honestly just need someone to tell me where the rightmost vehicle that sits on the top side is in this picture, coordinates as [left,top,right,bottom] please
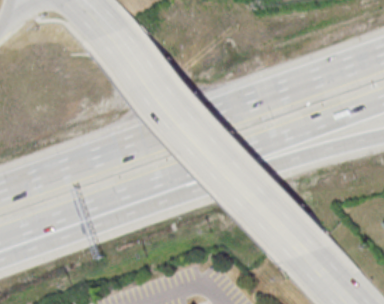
[334,104,364,120]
